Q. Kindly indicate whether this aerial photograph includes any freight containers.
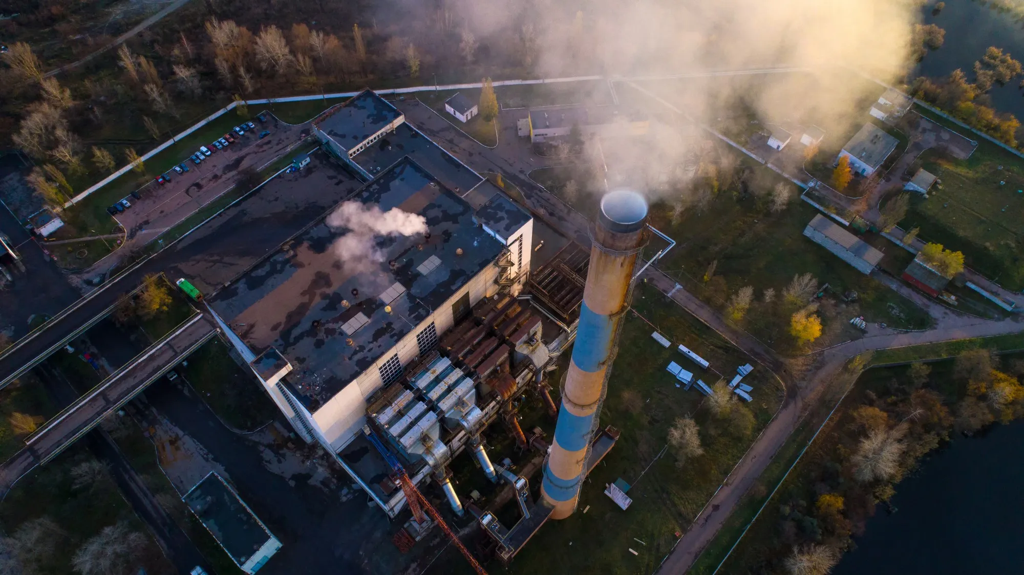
Yes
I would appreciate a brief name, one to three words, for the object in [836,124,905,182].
building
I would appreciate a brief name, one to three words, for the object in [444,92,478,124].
house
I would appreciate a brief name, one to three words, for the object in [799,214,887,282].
barn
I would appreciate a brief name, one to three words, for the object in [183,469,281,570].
building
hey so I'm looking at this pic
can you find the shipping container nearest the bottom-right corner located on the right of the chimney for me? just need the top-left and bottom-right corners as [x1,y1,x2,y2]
[677,345,709,371]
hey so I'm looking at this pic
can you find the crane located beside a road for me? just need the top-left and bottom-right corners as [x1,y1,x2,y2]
[350,413,489,575]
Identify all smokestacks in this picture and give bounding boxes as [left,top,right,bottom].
[547,187,651,514]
